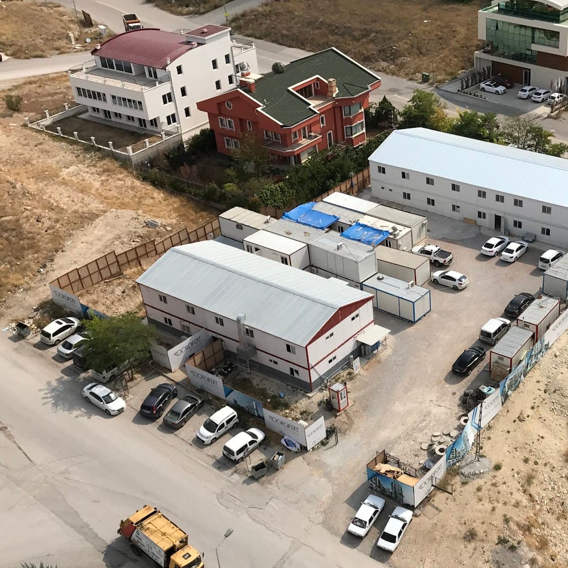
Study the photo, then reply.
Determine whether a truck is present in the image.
Yes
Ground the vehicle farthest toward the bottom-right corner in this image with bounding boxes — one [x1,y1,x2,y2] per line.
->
[376,505,415,551]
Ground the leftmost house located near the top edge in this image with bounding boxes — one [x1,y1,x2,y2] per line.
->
[68,13,263,155]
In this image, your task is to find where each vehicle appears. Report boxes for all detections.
[92,356,130,381]
[70,348,101,370]
[348,495,387,539]
[537,246,565,268]
[40,318,83,342]
[55,334,94,359]
[451,343,491,376]
[77,384,129,415]
[503,291,539,316]
[493,77,515,89]
[196,400,242,442]
[161,397,205,426]
[479,81,507,95]
[531,88,552,102]
[479,314,514,344]
[430,271,470,290]
[139,384,180,416]
[108,501,207,568]
[409,243,454,266]
[376,505,415,551]
[518,86,539,98]
[223,428,266,460]
[479,236,513,258]
[500,242,532,263]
